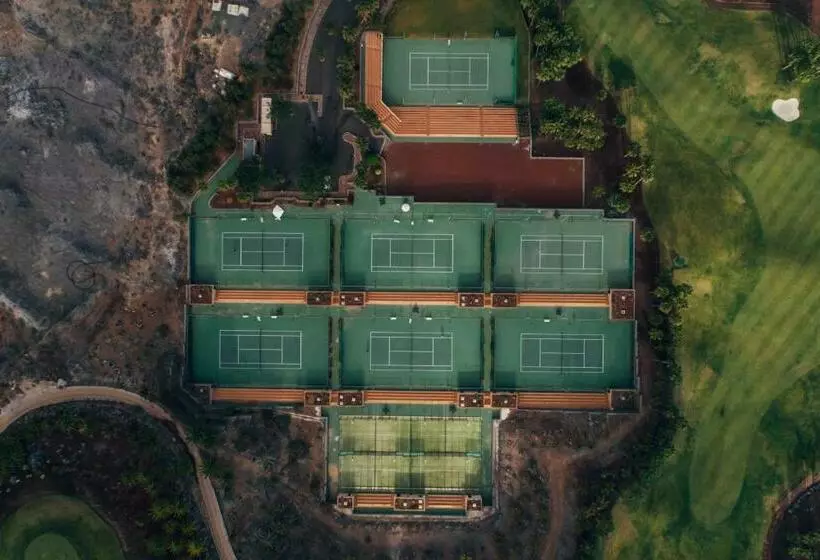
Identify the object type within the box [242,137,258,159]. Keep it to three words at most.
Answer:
shed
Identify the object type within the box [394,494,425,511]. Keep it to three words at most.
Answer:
building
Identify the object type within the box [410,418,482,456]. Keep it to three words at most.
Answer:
sports court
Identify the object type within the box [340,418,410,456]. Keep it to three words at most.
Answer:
sports court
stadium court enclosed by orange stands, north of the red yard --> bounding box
[383,38,515,107]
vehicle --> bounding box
[216,65,235,79]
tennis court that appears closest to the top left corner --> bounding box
[195,218,330,288]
